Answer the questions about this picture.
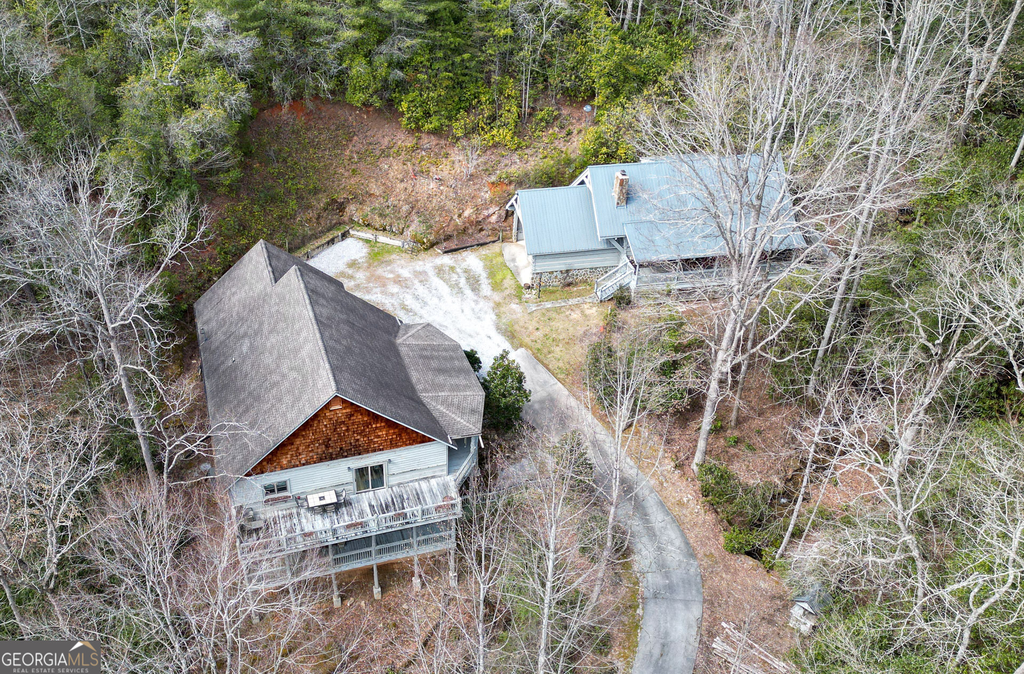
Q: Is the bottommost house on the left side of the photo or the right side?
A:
right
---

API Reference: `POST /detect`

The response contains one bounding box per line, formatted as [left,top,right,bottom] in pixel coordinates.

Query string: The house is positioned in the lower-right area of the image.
[789,588,830,635]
